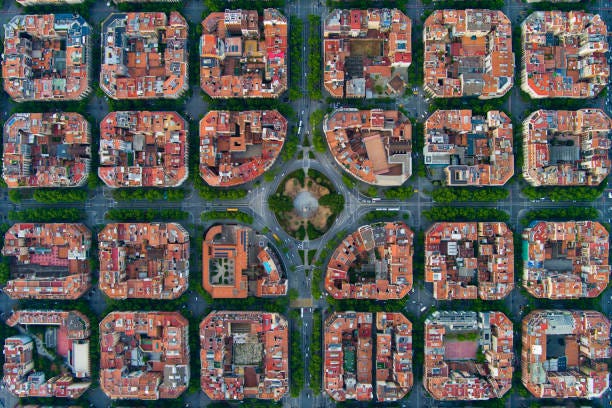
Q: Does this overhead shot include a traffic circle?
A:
Yes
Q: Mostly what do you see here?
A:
buildings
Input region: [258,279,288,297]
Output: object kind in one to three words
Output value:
building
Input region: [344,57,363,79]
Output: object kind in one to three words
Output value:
building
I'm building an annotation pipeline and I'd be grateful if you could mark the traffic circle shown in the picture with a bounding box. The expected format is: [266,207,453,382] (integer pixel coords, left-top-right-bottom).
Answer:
[267,167,345,241]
